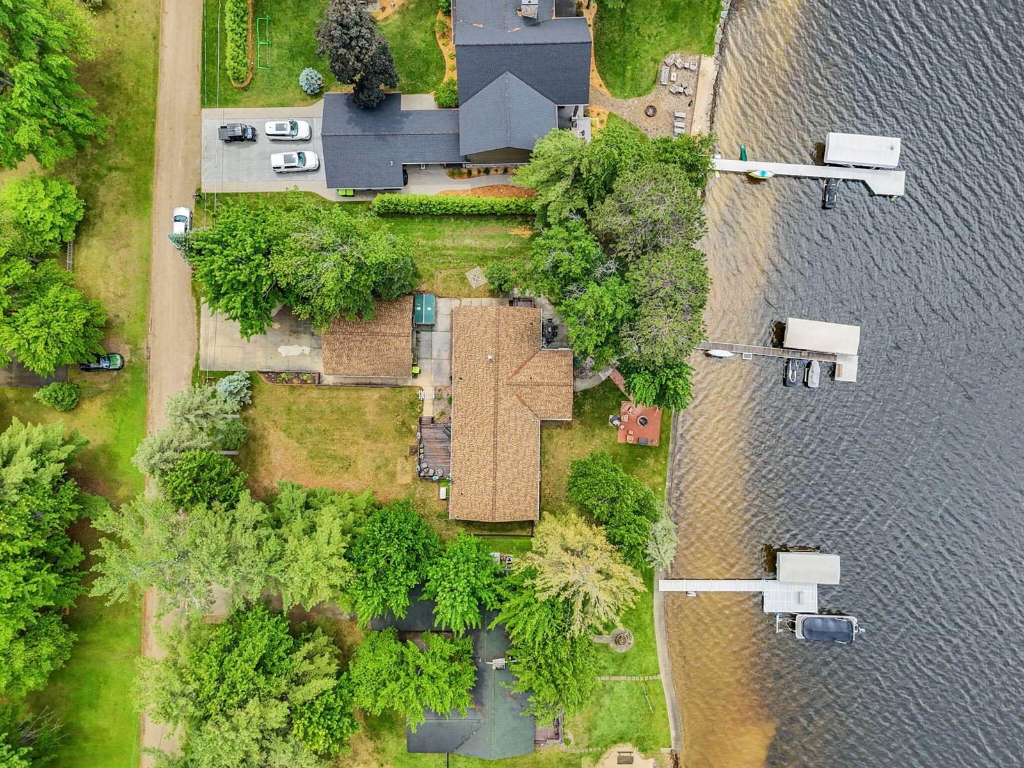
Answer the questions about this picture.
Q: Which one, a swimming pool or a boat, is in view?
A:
boat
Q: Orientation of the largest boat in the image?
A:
horizontally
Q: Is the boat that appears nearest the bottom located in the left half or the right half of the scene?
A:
right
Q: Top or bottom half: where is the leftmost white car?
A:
top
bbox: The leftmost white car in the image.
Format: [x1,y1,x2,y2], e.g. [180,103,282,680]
[171,204,193,235]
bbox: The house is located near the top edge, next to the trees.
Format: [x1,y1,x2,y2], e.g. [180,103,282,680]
[321,0,593,191]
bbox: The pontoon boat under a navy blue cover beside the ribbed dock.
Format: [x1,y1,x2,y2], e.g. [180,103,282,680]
[794,614,866,642]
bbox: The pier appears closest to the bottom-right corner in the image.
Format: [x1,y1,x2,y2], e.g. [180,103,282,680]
[666,577,820,614]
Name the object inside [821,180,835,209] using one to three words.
boat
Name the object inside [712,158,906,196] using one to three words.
pier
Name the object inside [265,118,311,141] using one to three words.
car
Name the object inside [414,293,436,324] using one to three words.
shed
